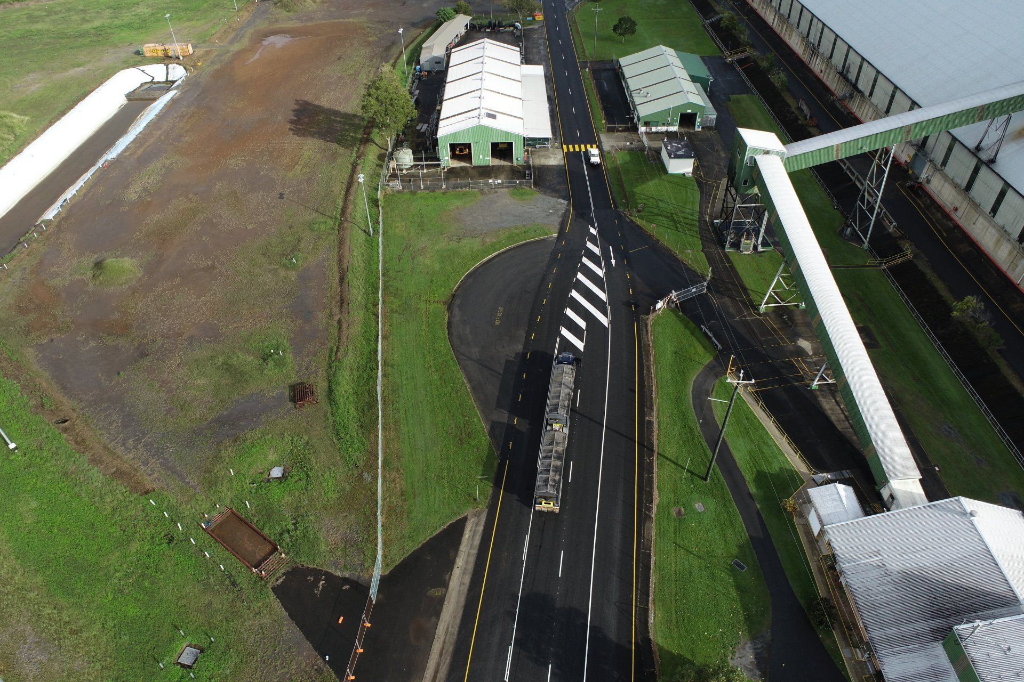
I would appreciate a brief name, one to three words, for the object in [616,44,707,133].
shed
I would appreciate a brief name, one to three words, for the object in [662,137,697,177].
shed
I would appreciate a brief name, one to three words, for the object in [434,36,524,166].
building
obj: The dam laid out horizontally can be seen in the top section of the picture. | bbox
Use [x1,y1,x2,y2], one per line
[126,81,175,99]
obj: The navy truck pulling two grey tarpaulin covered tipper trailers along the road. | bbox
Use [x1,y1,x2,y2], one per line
[535,352,577,516]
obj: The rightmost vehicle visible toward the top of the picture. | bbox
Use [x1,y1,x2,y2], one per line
[588,144,600,162]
